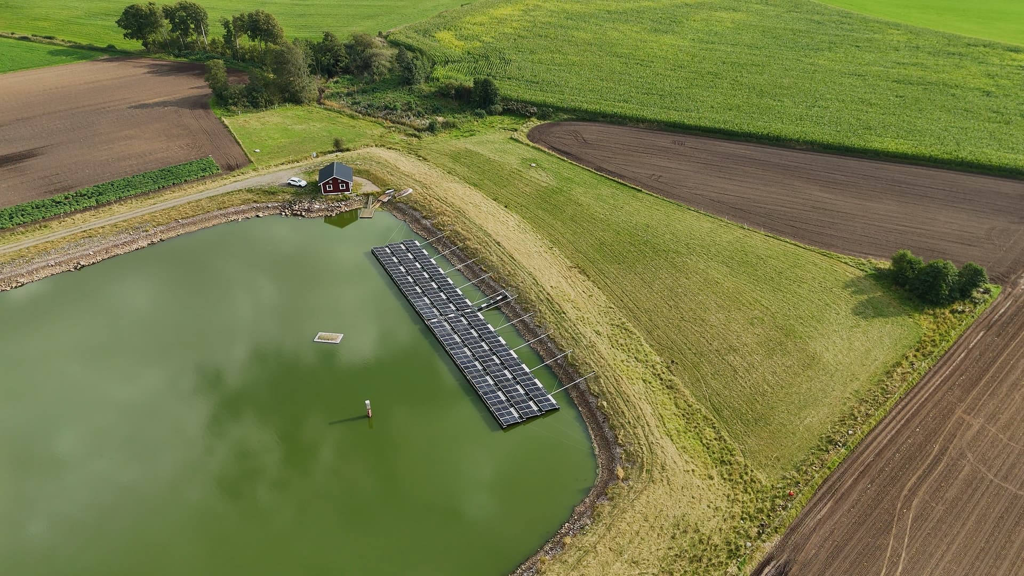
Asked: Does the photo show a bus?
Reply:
No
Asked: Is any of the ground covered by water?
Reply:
Yes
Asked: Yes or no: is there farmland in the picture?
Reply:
Yes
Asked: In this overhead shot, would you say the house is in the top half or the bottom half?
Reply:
top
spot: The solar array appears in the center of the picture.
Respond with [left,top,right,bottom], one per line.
[372,232,596,430]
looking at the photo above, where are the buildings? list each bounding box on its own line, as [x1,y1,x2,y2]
[320,161,352,194]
